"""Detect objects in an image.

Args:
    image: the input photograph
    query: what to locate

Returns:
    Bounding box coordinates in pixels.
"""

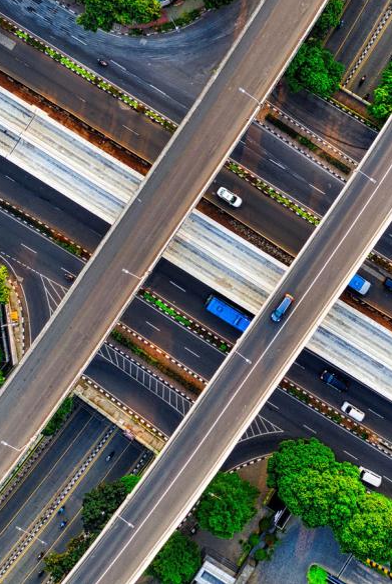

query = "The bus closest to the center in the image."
[204,295,255,335]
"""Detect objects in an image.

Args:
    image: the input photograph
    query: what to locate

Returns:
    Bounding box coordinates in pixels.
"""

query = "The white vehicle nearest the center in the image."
[215,186,244,209]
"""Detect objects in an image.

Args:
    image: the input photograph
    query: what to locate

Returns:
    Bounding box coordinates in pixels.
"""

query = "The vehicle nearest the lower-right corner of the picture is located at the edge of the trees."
[356,466,384,489]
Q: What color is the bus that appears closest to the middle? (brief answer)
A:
blue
